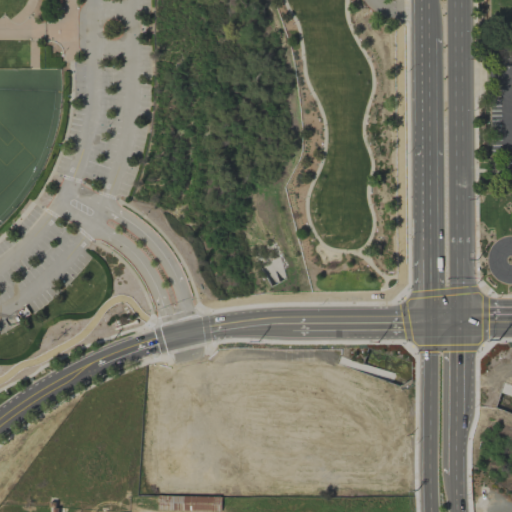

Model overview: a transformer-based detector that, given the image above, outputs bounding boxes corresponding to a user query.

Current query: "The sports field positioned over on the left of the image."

[0,69,63,227]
